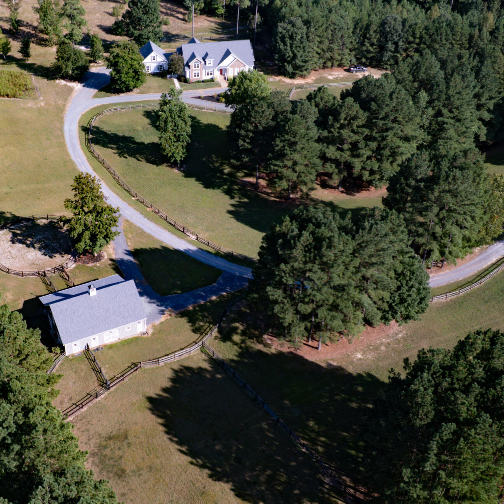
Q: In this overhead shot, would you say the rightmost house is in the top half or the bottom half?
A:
top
